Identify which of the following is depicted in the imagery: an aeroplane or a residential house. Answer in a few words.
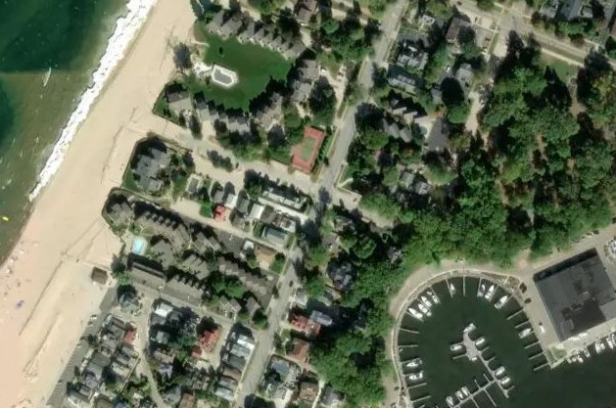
residential house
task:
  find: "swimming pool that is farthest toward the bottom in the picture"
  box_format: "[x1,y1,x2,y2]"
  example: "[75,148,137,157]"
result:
[130,234,147,254]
